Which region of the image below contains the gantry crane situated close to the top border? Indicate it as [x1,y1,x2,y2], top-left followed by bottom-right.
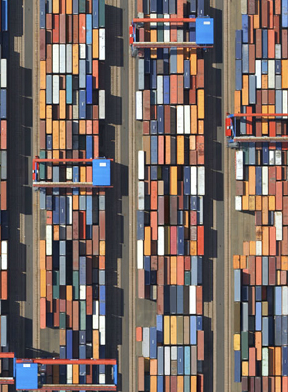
[129,17,214,60]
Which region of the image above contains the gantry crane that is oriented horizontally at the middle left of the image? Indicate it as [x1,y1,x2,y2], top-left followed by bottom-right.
[29,156,113,198]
